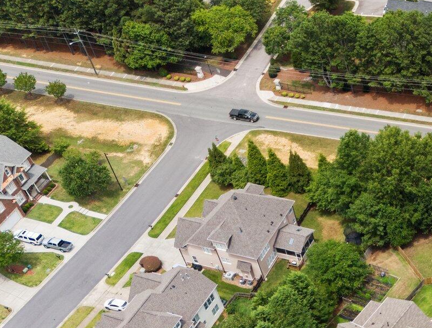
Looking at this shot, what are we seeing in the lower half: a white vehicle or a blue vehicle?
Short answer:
white vehicle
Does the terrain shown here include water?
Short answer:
No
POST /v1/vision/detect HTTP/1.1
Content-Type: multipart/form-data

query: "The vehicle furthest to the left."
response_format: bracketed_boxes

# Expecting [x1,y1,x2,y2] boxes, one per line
[11,229,43,245]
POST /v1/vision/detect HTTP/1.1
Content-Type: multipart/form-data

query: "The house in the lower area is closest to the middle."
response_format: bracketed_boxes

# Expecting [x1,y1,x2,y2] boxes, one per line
[167,178,316,282]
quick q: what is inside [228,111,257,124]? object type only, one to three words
vehicle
